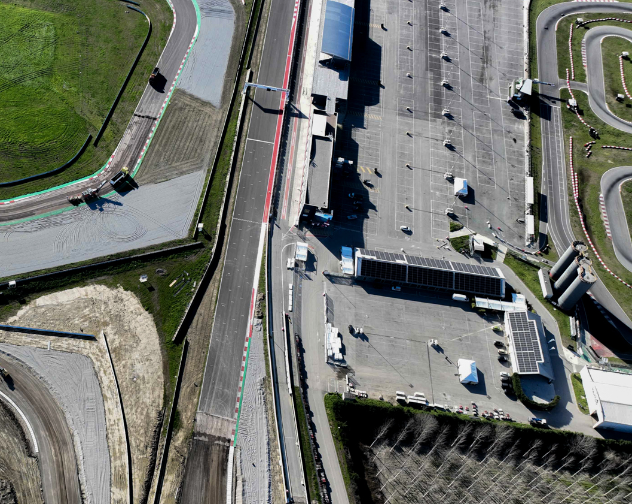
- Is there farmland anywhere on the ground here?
Yes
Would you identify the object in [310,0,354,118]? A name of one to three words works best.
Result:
building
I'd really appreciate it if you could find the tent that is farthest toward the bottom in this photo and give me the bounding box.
[457,359,478,386]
